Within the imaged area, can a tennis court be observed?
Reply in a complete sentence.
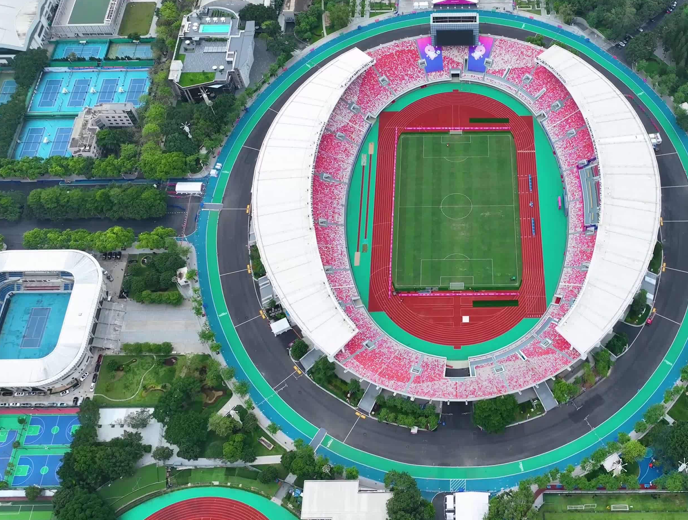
Yes, the photo shows a tennis court.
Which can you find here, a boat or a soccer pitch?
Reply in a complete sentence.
Looking from above, you can make out a soccer pitch.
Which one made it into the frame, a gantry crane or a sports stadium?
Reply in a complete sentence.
Of the two, only a sports stadium appears.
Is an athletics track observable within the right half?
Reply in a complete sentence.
Yes, an athletics track appears within the right half.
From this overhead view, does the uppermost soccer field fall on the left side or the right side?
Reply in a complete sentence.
It is on the right.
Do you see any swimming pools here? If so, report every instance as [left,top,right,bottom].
[199,25,229,32]
[52,0,122,33]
